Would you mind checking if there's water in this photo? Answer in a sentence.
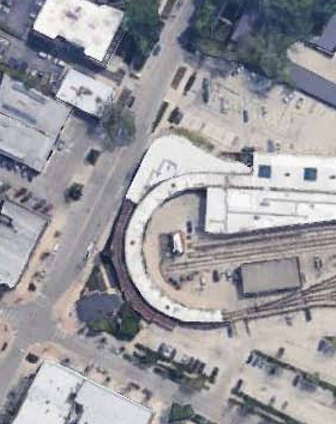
No, there's no water in this view.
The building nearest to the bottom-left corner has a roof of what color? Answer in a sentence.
The roof of the building nearest to the bottom-left corner is white.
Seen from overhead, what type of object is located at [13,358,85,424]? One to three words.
building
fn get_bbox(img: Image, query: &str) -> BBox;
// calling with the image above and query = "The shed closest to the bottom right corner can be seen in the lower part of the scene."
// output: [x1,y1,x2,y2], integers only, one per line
[242,259,301,292]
